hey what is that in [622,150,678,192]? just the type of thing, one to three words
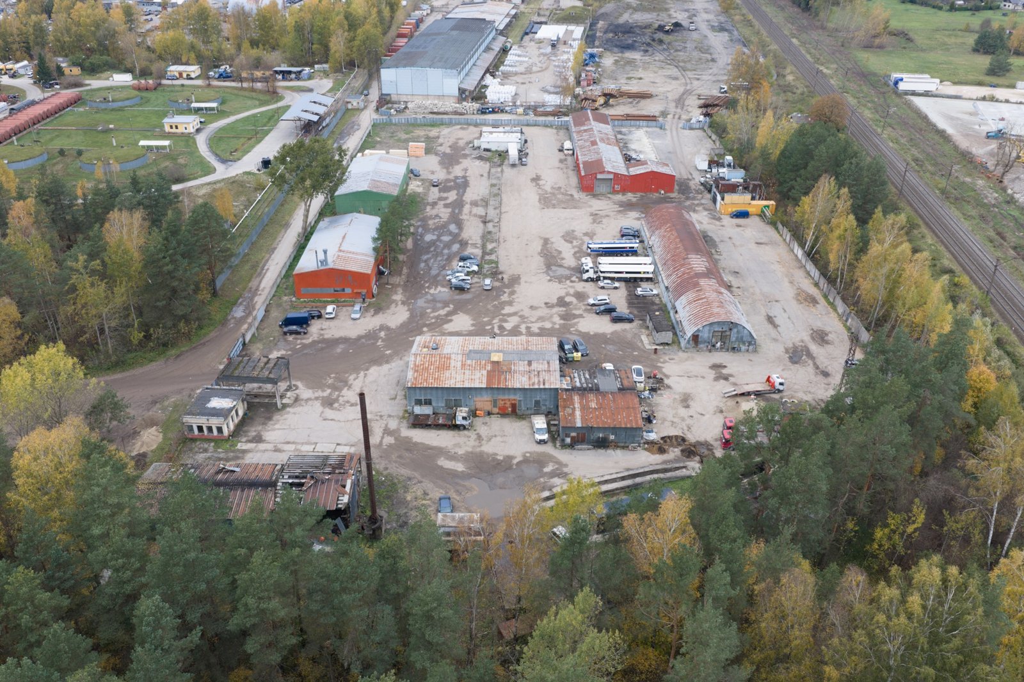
building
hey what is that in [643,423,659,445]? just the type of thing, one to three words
car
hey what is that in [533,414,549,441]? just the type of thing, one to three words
vehicle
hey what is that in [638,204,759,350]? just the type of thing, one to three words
hangar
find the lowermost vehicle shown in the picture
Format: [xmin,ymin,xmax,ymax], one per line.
[437,492,452,509]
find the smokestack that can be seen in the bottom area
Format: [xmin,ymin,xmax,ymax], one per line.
[352,391,393,547]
